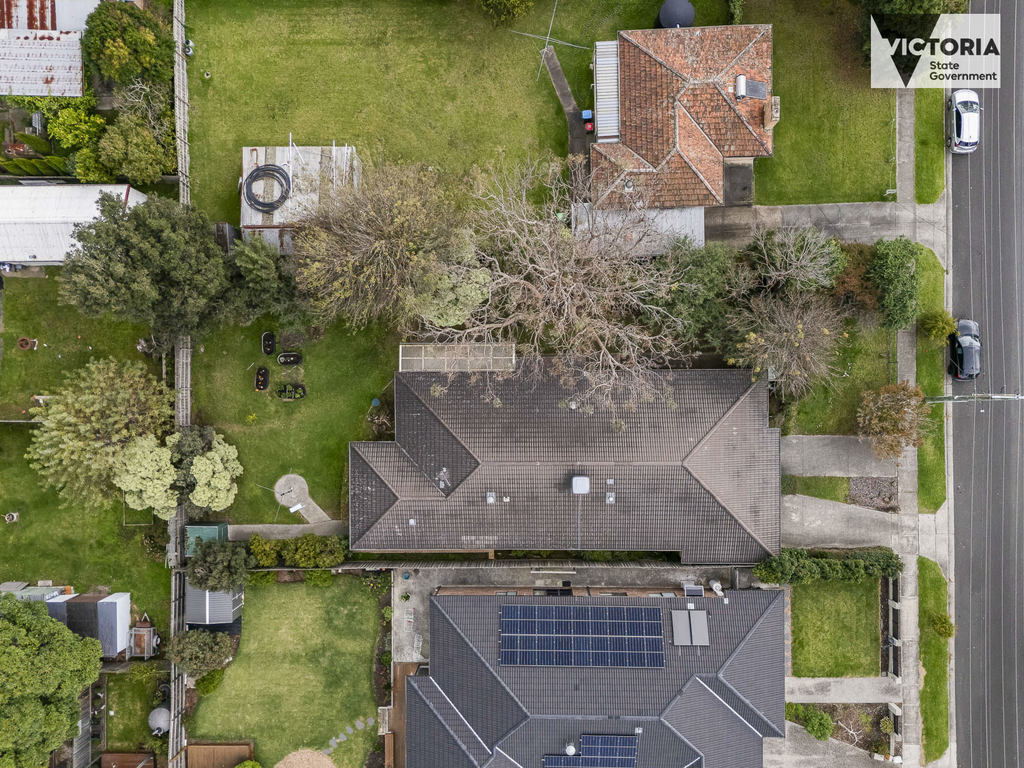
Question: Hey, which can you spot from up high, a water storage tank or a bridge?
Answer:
water storage tank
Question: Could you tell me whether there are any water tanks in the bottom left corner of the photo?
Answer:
Yes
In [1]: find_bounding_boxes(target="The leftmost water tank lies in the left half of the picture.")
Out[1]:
[141,707,173,741]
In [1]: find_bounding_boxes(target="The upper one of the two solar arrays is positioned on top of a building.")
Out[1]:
[498,605,666,668]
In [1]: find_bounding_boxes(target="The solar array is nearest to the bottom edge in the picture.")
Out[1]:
[542,736,639,768]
